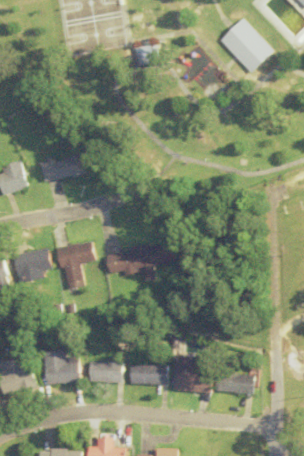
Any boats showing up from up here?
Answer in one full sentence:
No, the photo shows no boat.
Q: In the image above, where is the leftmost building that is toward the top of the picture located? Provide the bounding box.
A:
[0,164,30,194]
